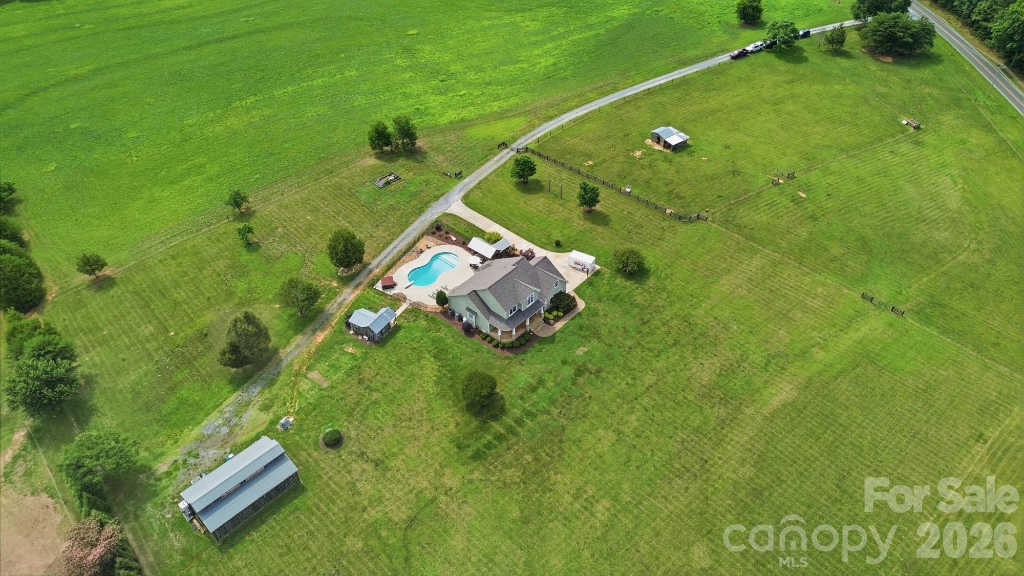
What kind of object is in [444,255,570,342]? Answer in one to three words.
house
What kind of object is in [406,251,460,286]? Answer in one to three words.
swimming pool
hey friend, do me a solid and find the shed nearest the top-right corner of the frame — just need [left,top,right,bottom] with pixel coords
[651,125,689,151]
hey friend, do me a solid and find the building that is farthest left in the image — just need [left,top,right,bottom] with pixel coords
[180,436,301,541]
